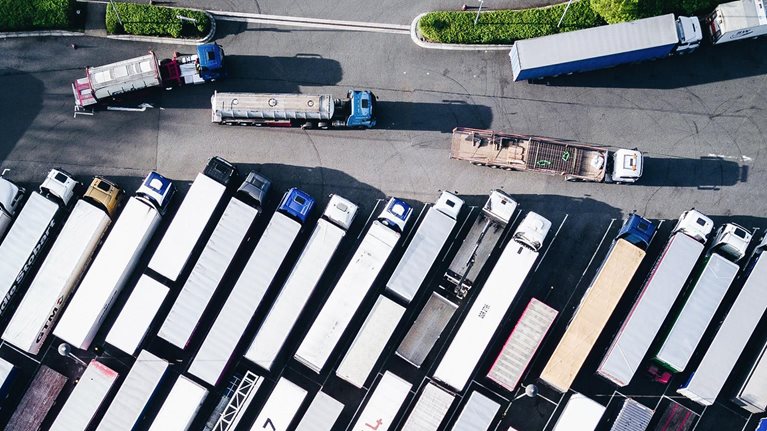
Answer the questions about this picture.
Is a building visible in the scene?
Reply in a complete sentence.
No, no building can be seen from above.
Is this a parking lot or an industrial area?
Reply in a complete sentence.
This image shows a parking lot.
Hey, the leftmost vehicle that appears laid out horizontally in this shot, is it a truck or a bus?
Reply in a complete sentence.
From above, the leftmost vehicle that appears laid out horizontally can be identified as a truck.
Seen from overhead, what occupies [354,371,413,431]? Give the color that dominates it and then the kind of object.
white trailer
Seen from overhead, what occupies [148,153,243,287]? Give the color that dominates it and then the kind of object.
white truck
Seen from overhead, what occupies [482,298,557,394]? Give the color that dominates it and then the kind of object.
white trailer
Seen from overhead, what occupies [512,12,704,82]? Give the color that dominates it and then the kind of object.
white truck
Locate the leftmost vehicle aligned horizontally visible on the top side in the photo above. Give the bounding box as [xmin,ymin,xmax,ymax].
[72,38,239,118]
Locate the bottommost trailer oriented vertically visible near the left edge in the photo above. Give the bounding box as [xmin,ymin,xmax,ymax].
[0,358,24,415]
